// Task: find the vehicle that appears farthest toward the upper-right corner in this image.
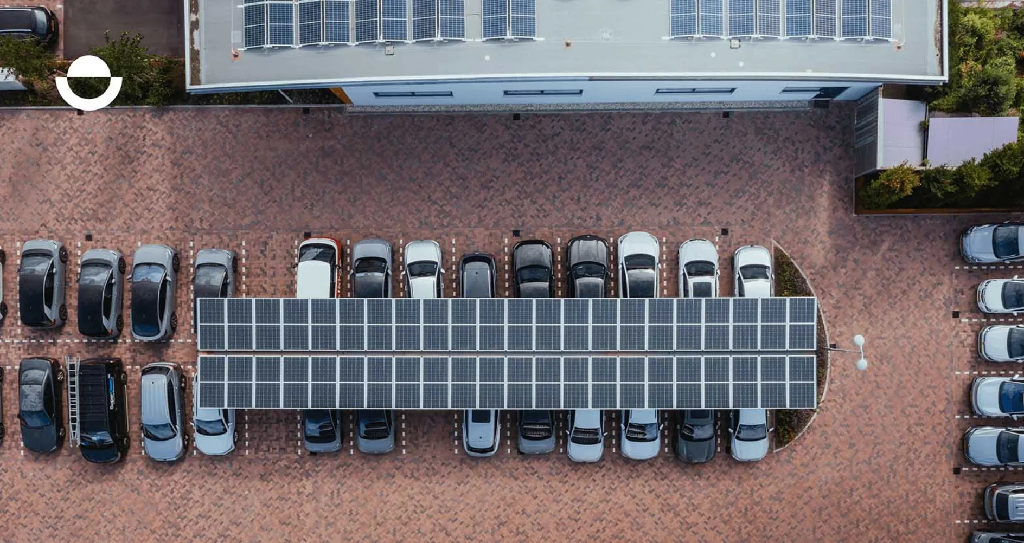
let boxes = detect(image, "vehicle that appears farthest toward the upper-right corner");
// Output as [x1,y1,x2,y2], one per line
[958,219,1024,265]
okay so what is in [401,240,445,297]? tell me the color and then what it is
white car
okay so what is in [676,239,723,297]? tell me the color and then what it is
white car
